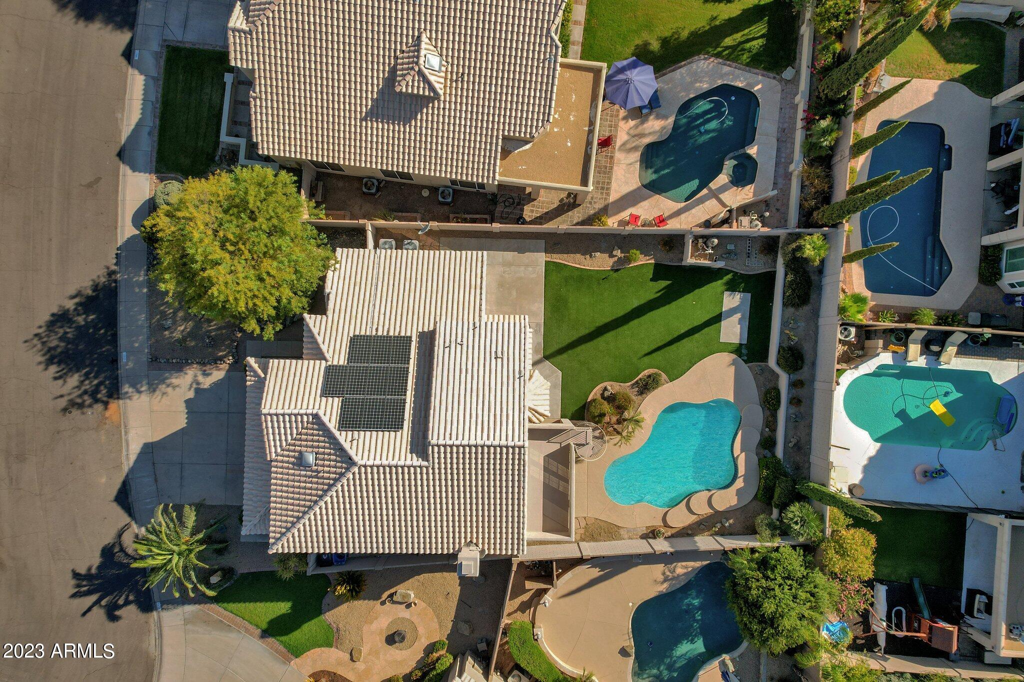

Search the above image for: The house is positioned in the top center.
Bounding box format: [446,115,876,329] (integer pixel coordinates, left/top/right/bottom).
[228,0,606,207]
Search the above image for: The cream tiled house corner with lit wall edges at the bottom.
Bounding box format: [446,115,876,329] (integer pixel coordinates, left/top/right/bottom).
[455,637,490,682]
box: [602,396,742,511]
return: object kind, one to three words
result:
swimming pool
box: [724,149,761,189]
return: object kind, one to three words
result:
swimming pool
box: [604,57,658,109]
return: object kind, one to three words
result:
umbrella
